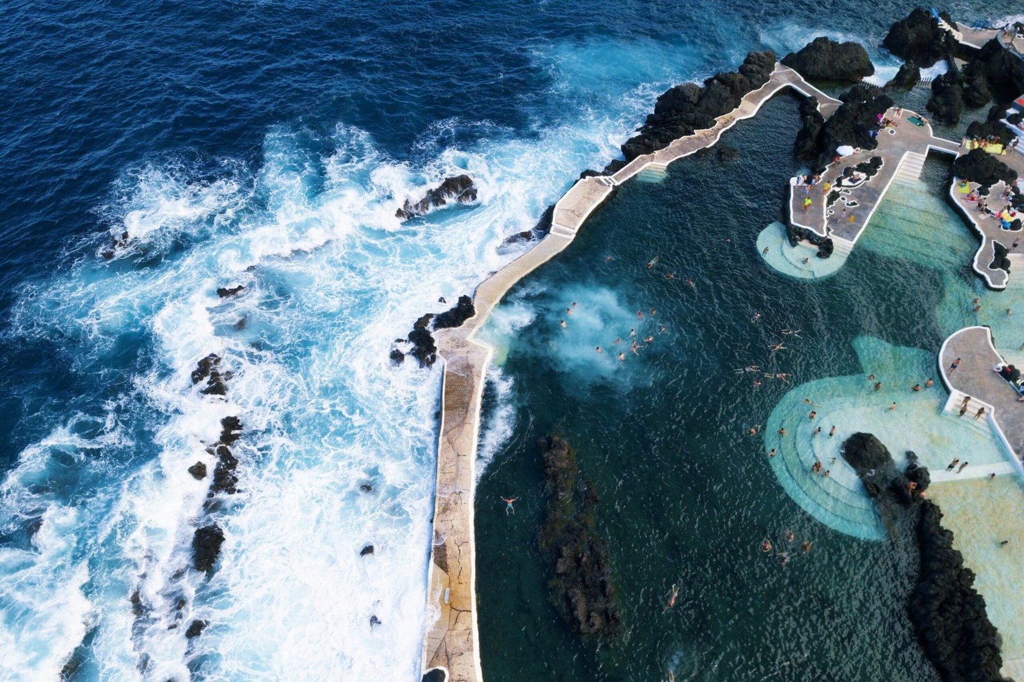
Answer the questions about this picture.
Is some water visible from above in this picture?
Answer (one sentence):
Yes, there's water in this view.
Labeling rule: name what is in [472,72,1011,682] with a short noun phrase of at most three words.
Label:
swimming pool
